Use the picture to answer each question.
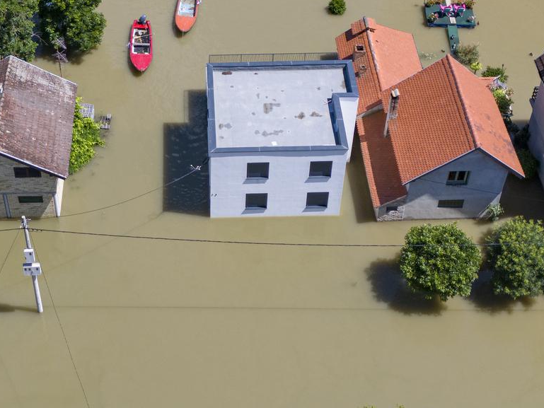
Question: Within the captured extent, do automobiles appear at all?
No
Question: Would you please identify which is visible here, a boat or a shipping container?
boat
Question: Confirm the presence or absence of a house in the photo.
Yes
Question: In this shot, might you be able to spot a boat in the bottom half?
No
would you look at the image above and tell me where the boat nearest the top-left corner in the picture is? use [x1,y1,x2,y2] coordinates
[128,7,154,69]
